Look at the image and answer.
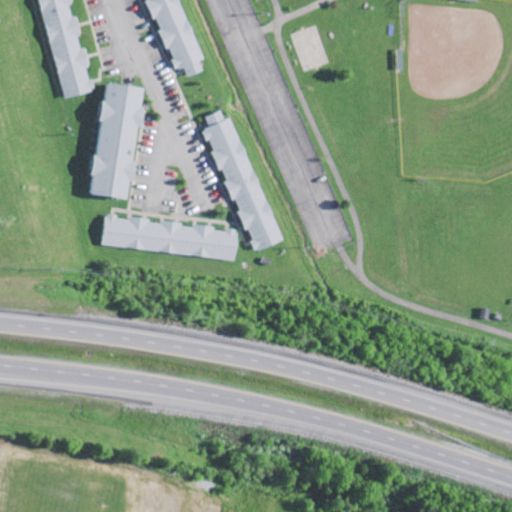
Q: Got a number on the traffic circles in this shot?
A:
0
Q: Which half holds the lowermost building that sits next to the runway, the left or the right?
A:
left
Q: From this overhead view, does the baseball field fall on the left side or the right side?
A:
right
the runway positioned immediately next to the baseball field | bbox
[208,0,352,247]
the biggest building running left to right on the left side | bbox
[102,216,239,260]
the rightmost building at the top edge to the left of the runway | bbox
[144,0,208,80]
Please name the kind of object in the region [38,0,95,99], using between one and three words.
building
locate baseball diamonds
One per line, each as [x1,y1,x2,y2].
[398,0,512,182]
